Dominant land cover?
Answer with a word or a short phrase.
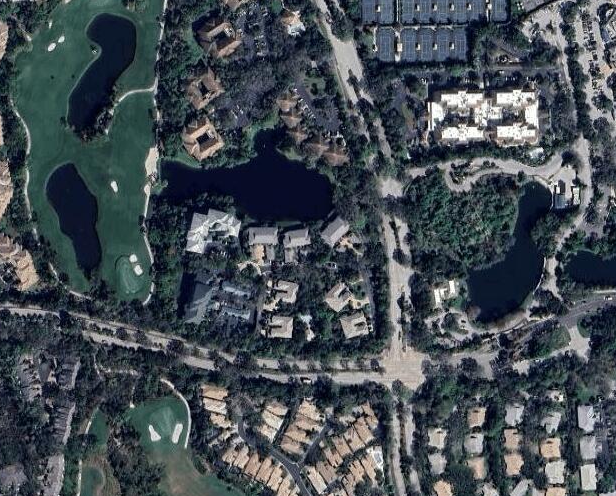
trees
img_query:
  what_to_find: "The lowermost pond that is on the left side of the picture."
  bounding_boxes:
[46,163,101,275]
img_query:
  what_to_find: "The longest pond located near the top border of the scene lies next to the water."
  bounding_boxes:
[66,13,136,136]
